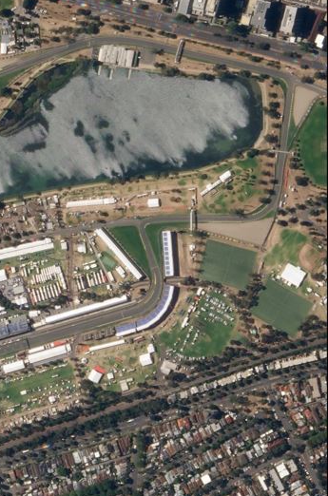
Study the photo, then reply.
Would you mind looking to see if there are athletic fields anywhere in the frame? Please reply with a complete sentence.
Yes, an athletic field is visible in the scene.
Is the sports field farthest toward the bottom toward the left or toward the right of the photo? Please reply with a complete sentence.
It is on the right.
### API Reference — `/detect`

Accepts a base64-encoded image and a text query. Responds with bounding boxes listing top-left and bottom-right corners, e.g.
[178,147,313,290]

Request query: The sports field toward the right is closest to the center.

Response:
[201,239,257,289]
